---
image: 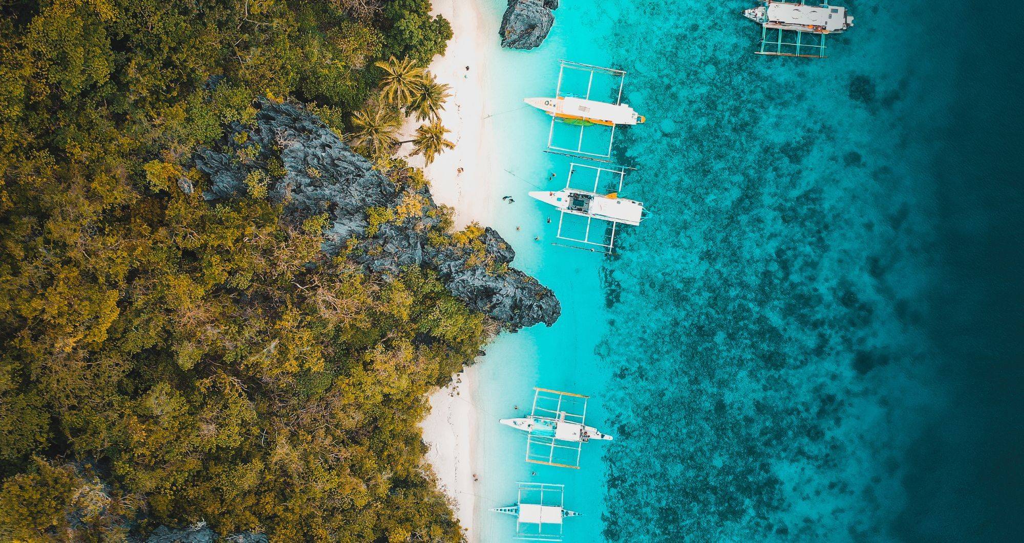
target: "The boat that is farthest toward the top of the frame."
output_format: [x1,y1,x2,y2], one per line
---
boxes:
[735,0,854,58]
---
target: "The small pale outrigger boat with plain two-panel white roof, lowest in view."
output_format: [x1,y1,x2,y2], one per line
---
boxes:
[488,482,586,542]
